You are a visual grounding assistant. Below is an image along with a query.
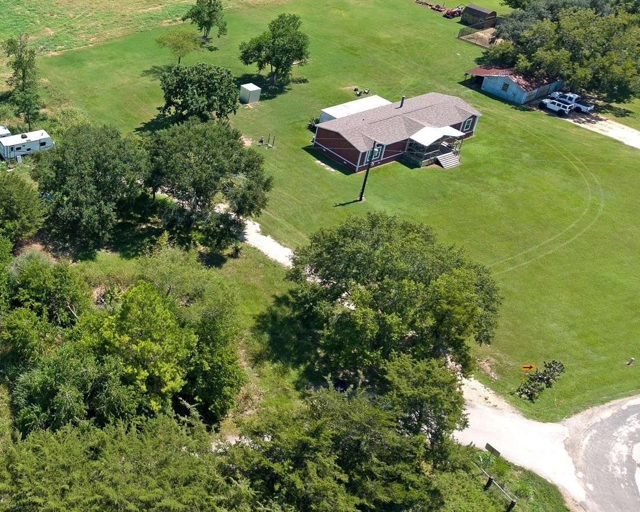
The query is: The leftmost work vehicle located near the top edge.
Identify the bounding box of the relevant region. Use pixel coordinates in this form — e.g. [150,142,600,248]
[439,0,467,20]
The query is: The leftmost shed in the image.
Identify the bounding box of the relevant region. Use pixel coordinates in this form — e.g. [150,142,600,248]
[241,81,265,106]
